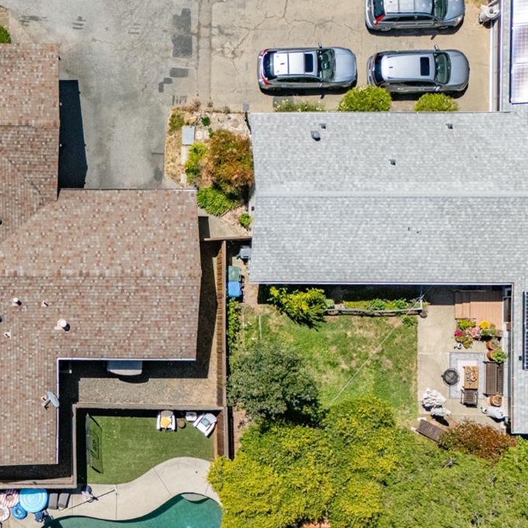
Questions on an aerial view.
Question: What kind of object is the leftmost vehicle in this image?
car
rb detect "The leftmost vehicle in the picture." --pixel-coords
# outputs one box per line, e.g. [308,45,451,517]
[256,42,358,91]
